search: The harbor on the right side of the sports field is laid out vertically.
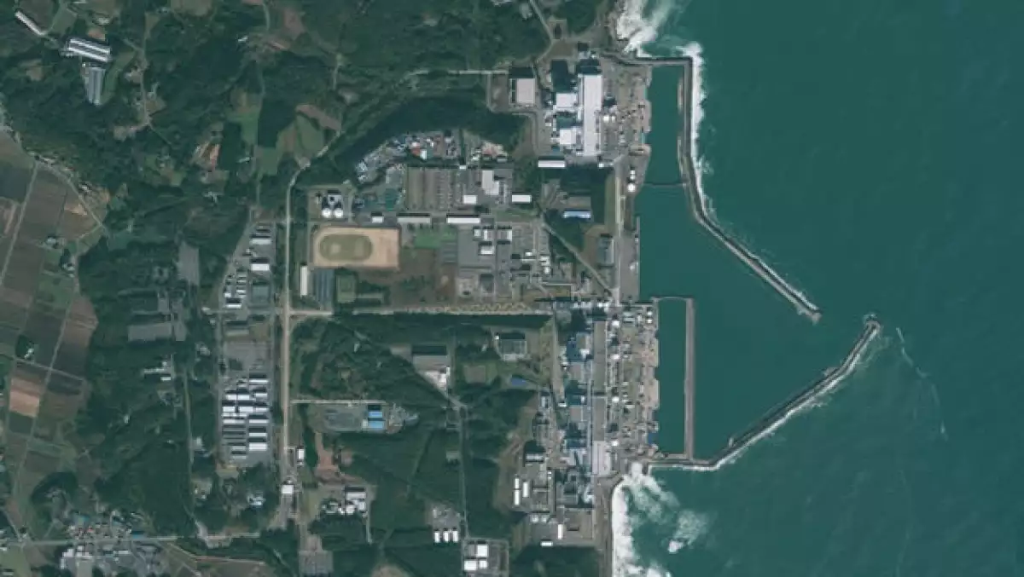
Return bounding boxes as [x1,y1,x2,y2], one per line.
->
[620,64,688,465]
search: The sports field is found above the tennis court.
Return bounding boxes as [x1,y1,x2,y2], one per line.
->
[312,225,401,269]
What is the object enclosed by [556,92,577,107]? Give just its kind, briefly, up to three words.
building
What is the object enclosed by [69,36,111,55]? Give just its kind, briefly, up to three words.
greenhouse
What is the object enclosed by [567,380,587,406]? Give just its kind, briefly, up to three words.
building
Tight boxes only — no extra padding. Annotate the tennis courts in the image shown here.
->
[336,272,356,303]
